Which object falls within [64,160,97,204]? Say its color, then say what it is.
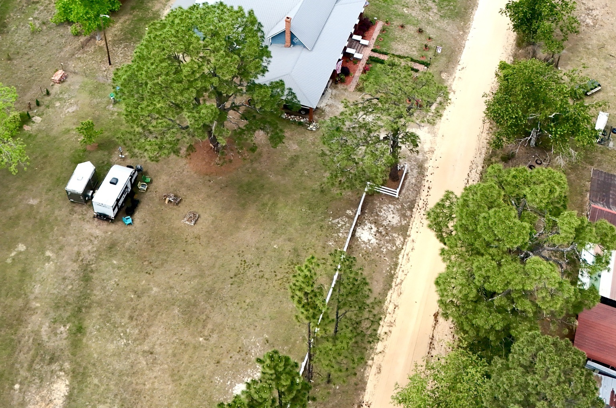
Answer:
white trailer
